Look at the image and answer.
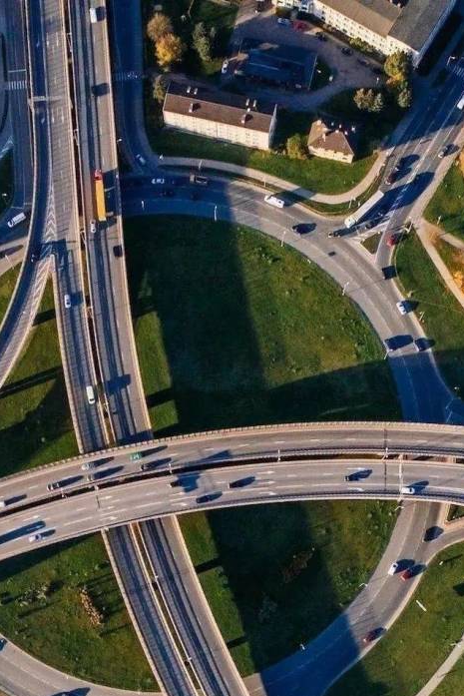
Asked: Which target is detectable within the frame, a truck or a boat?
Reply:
truck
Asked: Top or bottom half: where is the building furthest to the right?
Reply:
top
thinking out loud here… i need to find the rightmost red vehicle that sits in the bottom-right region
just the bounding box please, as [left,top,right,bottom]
[398,567,411,582]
